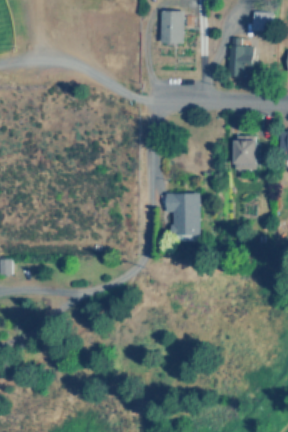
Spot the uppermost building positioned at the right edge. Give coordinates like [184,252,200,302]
[254,11,276,34]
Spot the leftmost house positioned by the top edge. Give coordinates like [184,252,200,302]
[161,10,186,44]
